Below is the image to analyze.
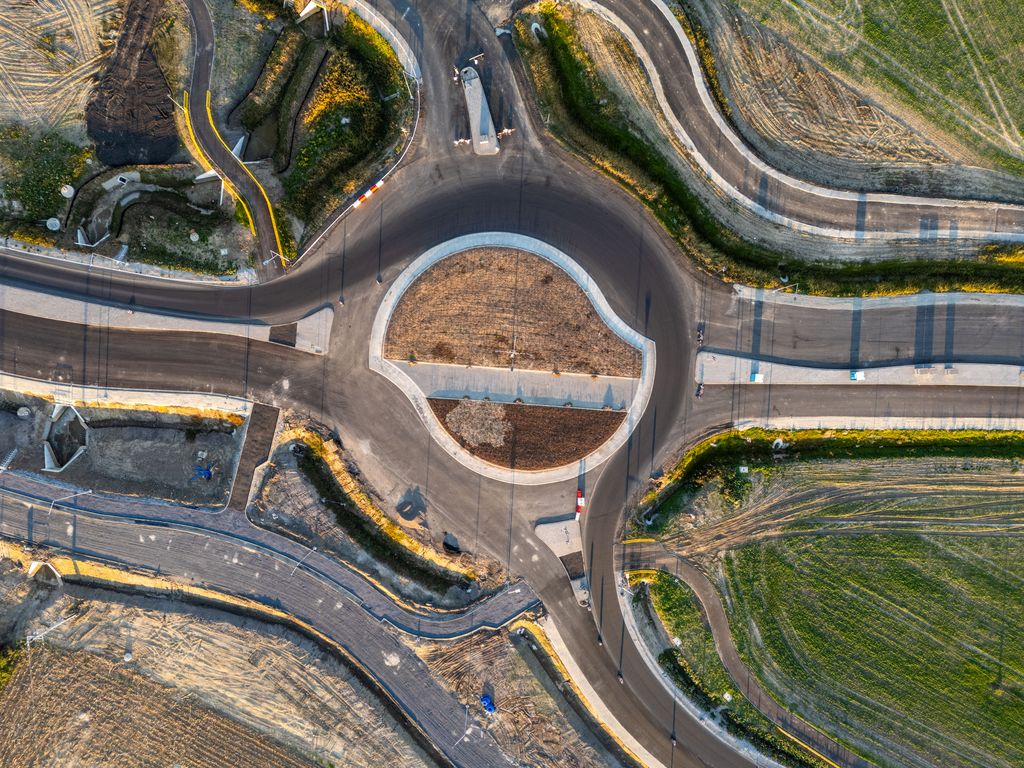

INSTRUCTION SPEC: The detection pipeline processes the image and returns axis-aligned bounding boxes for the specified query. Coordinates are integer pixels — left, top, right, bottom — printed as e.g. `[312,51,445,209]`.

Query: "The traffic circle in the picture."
[286,107,734,568]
